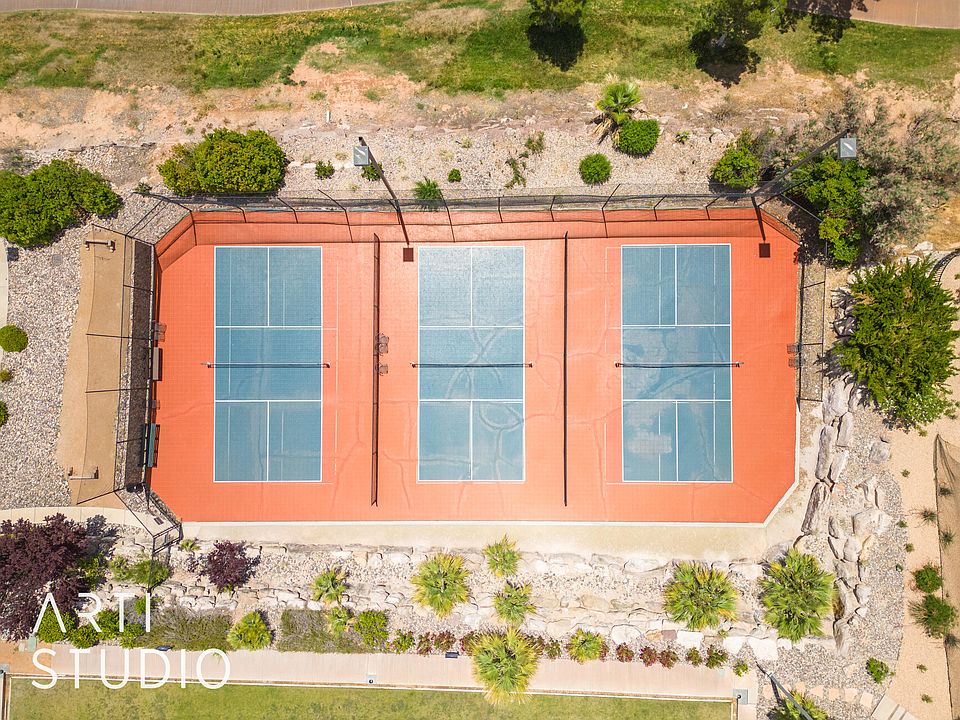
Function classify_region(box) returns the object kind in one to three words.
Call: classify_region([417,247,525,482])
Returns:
sports court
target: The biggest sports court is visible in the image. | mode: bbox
[146,204,802,527]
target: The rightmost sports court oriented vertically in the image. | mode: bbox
[622,244,732,483]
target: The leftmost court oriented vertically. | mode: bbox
[214,247,322,483]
